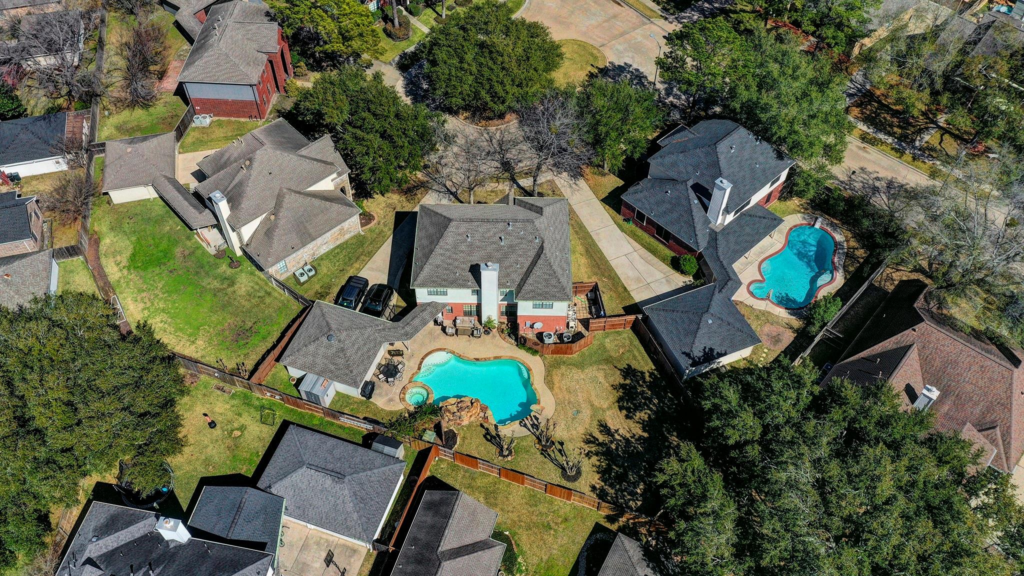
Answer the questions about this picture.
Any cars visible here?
Yes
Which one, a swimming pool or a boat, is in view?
swimming pool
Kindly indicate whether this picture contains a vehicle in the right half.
No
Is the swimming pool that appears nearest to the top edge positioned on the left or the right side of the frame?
right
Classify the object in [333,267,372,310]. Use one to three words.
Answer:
car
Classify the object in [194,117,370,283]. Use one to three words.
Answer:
house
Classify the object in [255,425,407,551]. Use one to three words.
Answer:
building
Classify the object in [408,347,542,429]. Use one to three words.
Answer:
swimming pool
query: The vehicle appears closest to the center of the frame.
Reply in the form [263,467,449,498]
[359,277,395,318]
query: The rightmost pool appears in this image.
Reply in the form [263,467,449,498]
[745,222,839,312]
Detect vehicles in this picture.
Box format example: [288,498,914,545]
[333,267,372,310]
[359,277,395,318]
